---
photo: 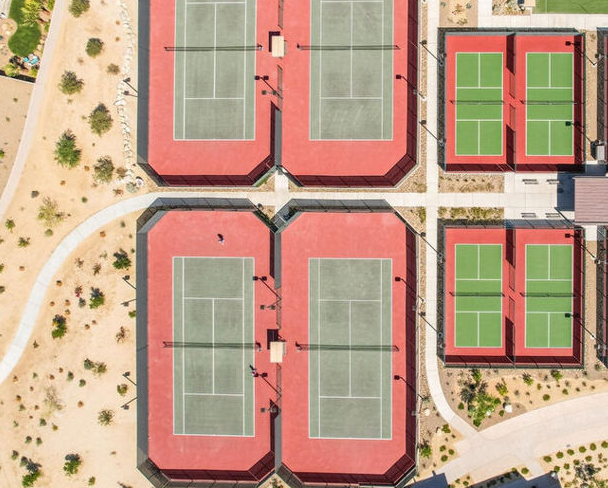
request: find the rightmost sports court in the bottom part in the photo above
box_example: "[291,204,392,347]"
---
[514,231,582,364]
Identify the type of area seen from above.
sports ground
